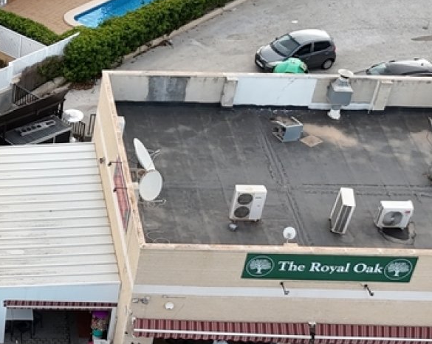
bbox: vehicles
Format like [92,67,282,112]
[360,55,432,76]
[259,21,348,70]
